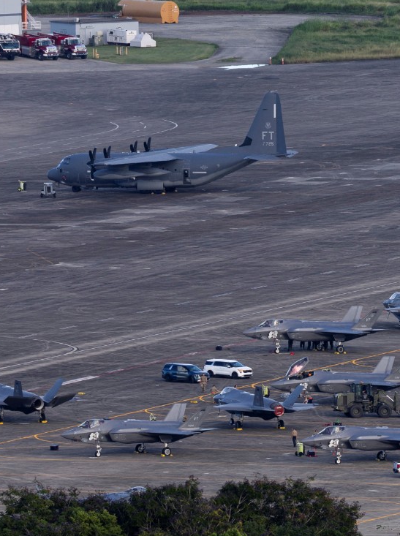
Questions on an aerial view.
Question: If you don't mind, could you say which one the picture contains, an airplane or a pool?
airplane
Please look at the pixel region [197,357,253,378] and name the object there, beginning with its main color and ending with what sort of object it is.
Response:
white car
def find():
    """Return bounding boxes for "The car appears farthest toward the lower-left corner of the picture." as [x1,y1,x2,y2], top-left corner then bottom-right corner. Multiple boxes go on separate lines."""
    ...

[155,361,210,383]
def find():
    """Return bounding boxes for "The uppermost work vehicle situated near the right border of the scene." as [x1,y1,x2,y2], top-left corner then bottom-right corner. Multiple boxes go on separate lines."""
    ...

[331,378,400,417]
